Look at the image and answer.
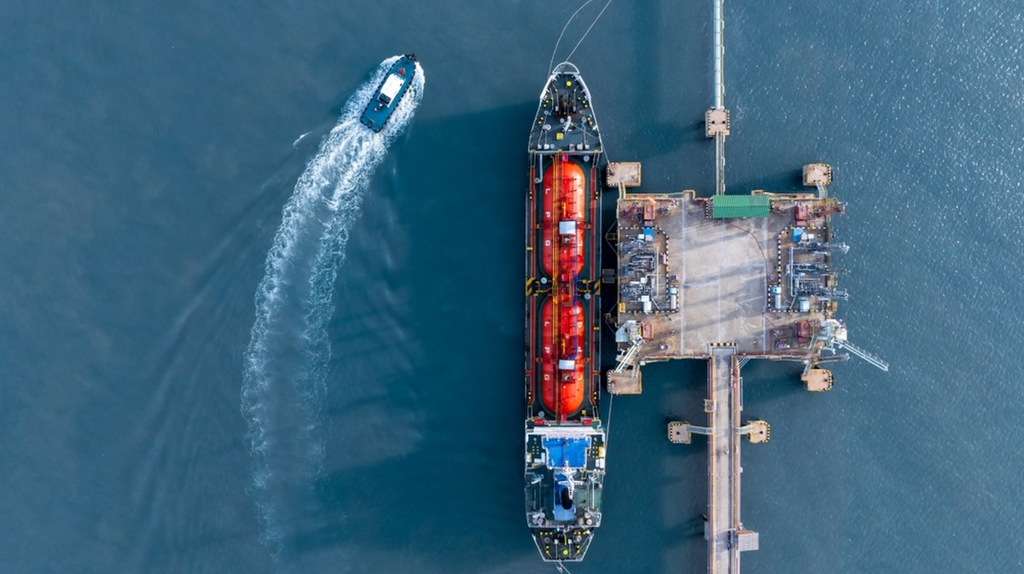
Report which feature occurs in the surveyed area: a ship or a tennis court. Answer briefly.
ship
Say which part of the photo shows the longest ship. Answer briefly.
center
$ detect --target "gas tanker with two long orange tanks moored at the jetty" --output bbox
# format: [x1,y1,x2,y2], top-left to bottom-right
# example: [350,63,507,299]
[524,61,606,561]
